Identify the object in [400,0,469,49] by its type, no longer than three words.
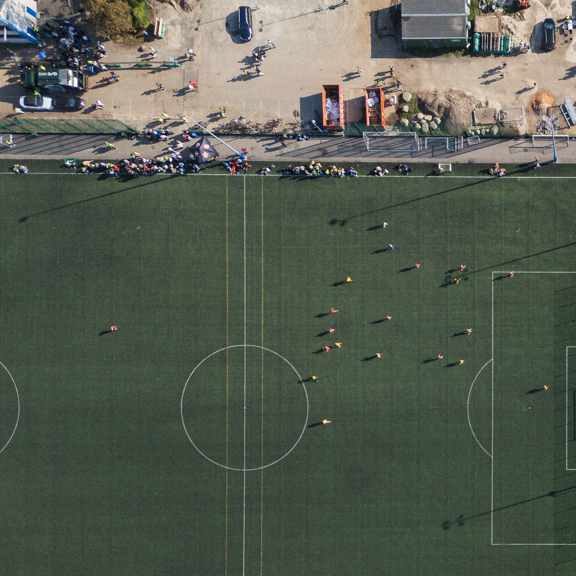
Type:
building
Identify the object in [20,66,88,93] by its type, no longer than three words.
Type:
truck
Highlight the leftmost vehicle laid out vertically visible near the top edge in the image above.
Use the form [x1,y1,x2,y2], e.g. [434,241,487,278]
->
[238,7,255,43]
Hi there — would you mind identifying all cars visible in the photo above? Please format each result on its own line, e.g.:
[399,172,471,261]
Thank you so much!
[17,95,50,112]
[238,7,255,43]
[50,96,83,112]
[542,18,558,51]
